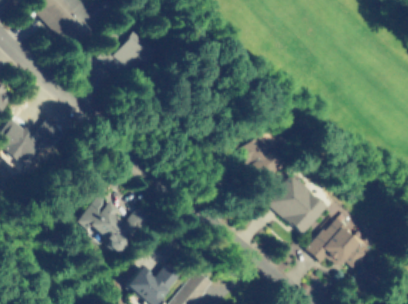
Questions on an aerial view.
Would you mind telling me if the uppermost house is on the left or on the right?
left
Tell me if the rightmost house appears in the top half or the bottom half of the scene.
bottom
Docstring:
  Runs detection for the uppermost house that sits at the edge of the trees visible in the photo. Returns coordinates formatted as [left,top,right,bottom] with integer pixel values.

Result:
[37,0,94,46]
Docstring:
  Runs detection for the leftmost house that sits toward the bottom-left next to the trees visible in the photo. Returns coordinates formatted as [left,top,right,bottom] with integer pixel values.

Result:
[78,196,128,251]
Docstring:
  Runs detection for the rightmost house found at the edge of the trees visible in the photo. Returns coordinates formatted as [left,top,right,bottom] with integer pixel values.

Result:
[306,216,366,268]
